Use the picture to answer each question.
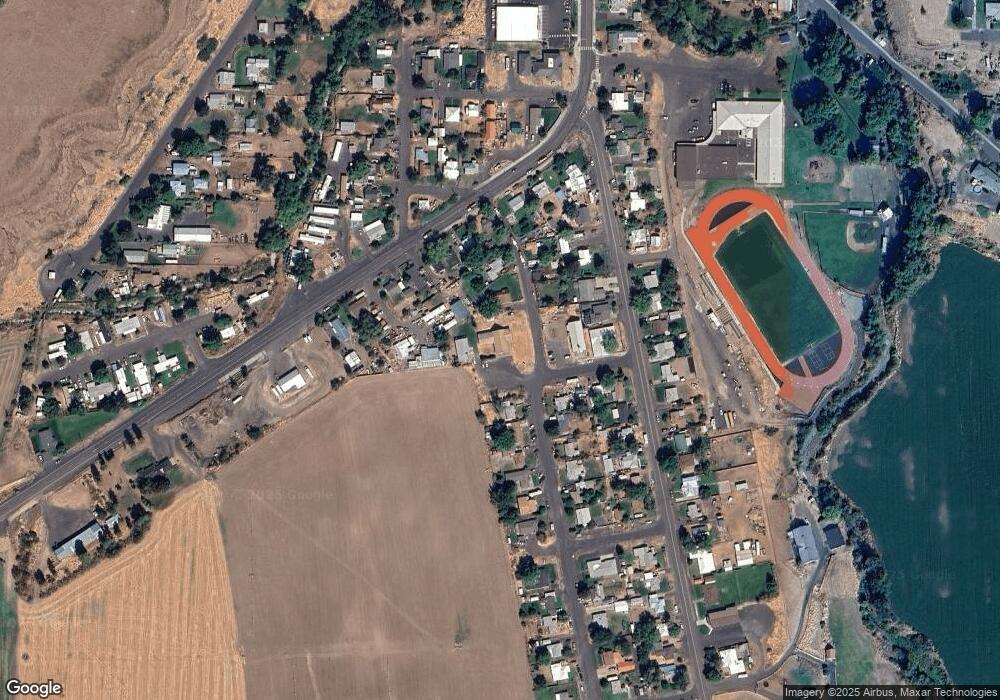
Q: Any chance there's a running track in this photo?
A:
Yes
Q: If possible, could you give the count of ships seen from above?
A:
zero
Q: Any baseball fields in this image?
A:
Yes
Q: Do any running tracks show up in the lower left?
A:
No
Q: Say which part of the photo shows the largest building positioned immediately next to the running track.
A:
top right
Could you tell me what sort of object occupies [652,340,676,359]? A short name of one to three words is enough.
house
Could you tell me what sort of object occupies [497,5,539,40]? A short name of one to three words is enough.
building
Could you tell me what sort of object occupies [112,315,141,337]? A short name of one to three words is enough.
house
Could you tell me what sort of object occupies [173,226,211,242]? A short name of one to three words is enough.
barn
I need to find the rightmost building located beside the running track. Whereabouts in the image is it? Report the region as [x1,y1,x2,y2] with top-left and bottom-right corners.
[716,101,784,184]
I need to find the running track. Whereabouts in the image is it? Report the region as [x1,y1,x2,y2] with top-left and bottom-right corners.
[683,188,854,411]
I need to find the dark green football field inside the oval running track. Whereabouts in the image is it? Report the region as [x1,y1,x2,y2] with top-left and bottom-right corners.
[715,210,840,364]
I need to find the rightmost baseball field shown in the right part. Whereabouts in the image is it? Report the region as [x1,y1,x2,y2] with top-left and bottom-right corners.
[805,212,881,280]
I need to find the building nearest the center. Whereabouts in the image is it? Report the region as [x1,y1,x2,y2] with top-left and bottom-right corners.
[478,330,513,357]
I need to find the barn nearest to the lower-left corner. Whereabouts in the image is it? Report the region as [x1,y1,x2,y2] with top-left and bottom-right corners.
[51,519,104,557]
